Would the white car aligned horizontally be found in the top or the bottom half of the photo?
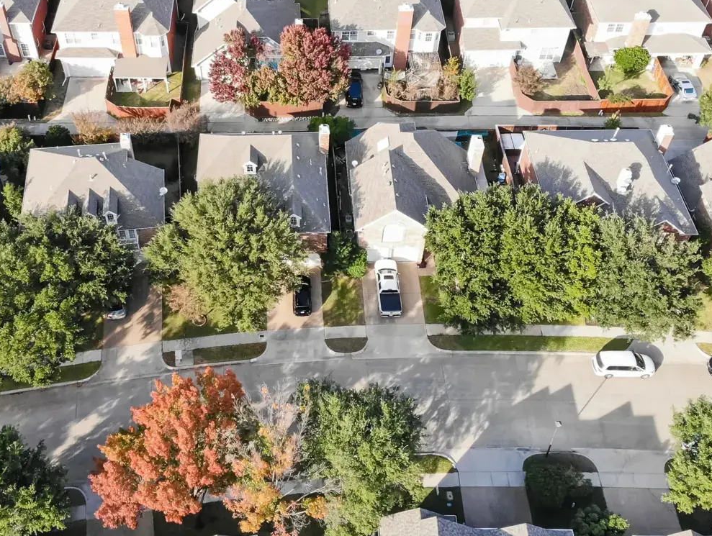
bottom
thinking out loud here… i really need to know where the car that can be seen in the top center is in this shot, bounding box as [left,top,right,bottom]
[345,80,364,108]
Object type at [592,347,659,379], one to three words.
car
